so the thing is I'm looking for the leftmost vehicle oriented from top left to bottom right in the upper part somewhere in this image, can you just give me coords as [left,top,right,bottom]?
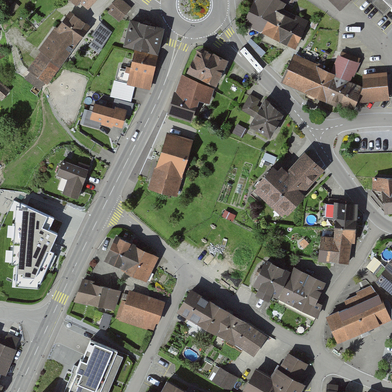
[240,46,264,72]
